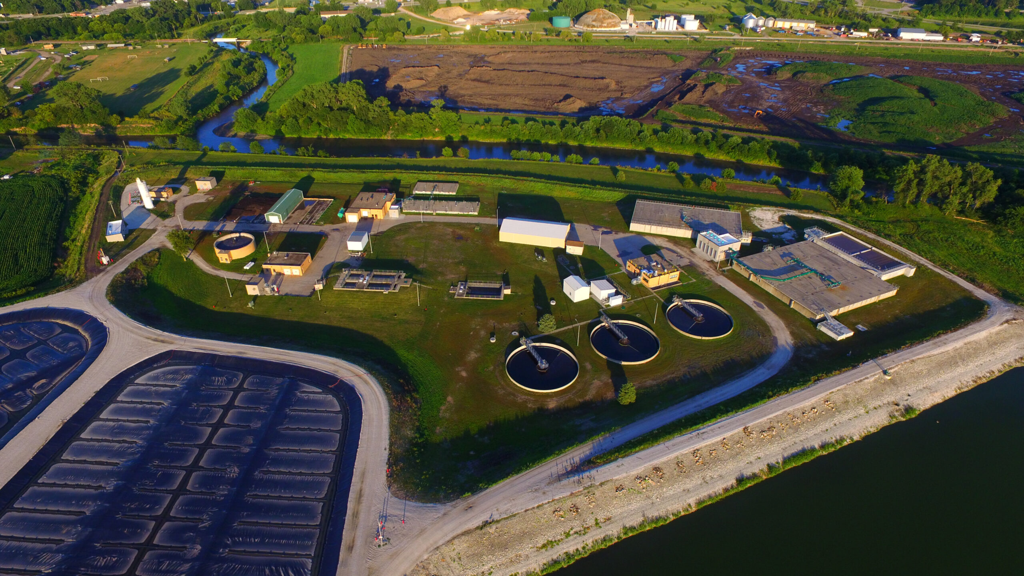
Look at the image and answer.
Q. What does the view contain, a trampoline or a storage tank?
storage tank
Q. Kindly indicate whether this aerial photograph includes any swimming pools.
No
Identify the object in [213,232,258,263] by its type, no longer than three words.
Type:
storage tank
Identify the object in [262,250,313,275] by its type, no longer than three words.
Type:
building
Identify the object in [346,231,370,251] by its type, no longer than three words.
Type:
shed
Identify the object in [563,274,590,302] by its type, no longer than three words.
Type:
shed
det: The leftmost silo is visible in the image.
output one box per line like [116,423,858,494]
[133,177,155,209]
